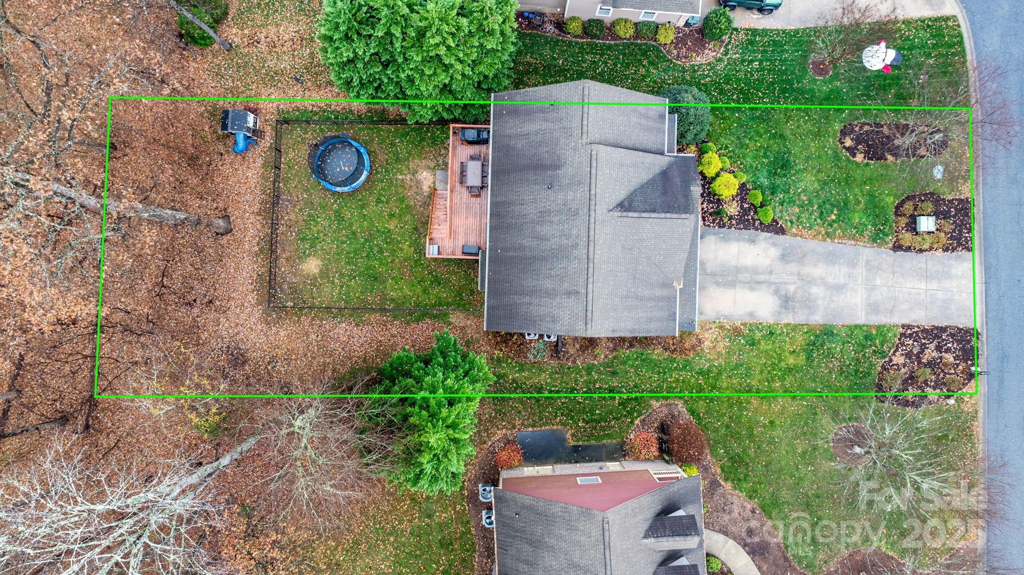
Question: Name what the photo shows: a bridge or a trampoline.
trampoline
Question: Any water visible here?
No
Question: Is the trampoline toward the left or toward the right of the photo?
left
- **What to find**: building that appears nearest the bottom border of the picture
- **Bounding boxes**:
[492,461,707,575]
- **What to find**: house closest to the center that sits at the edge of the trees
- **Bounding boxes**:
[477,80,701,337]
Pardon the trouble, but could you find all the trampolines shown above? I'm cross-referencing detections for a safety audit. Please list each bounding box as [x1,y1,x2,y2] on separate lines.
[308,131,370,196]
